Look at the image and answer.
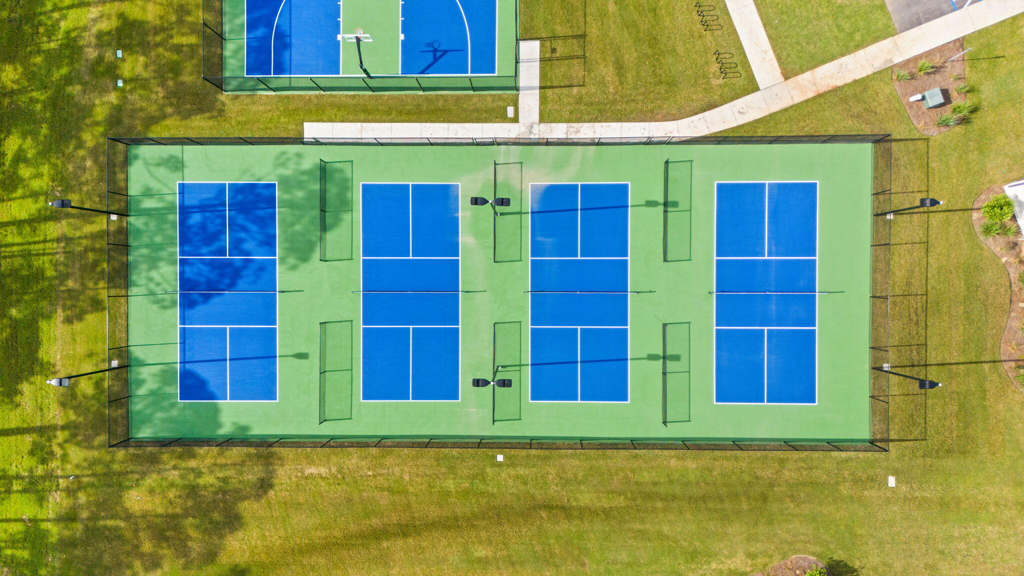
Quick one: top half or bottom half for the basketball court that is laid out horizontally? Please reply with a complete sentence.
It is in the top half that the basketball court that is laid out horizontally appears.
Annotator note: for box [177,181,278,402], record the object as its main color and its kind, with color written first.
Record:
blue sports court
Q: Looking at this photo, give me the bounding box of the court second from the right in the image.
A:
[529,182,630,403]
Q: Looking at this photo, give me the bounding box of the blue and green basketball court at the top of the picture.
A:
[222,0,521,95]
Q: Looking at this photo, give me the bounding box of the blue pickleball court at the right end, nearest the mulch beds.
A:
[714,181,819,405]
